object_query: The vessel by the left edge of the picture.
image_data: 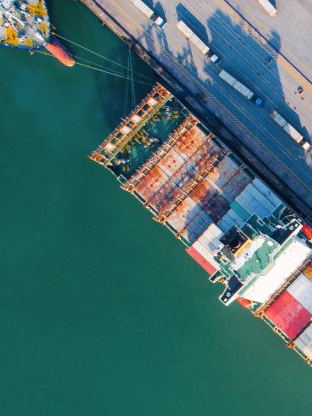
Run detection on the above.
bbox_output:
[0,0,75,64]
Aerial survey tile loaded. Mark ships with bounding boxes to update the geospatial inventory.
[88,83,312,346]
[0,0,75,64]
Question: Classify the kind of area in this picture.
port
